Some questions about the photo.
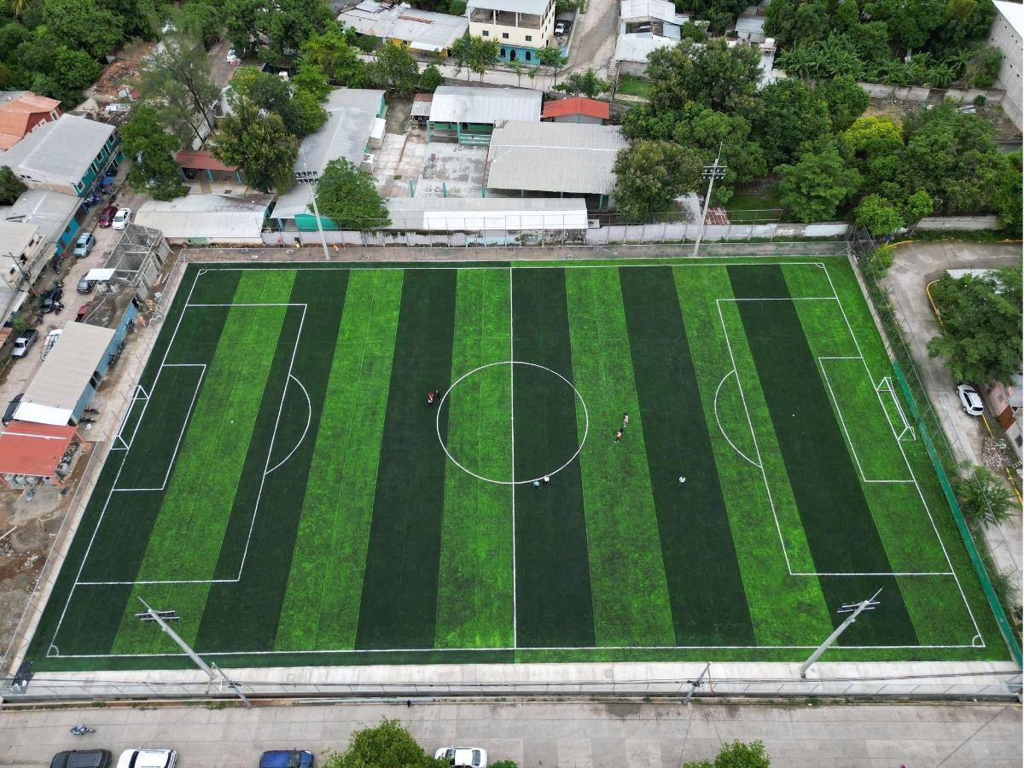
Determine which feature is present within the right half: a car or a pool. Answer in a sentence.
The one visible within the right half is a car.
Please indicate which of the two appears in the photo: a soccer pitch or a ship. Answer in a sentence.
Visible in the photo is a soccer pitch.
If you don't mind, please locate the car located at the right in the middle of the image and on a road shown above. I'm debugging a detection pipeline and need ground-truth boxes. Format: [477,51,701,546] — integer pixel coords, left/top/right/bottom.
[954,386,987,417]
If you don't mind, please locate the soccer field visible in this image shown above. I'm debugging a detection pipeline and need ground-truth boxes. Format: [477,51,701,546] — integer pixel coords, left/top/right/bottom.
[32,255,1011,668]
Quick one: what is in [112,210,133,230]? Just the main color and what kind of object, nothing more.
white car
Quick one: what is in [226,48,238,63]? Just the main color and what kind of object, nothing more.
white vehicle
